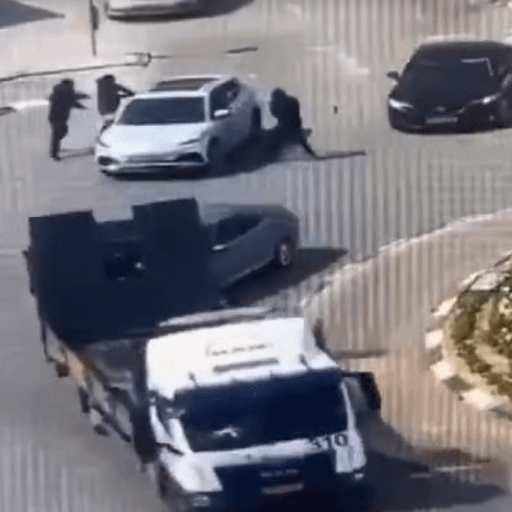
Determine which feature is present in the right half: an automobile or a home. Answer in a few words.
automobile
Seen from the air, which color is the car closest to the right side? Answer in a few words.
black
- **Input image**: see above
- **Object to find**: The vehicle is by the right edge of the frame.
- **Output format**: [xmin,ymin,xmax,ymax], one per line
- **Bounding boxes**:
[384,35,512,135]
